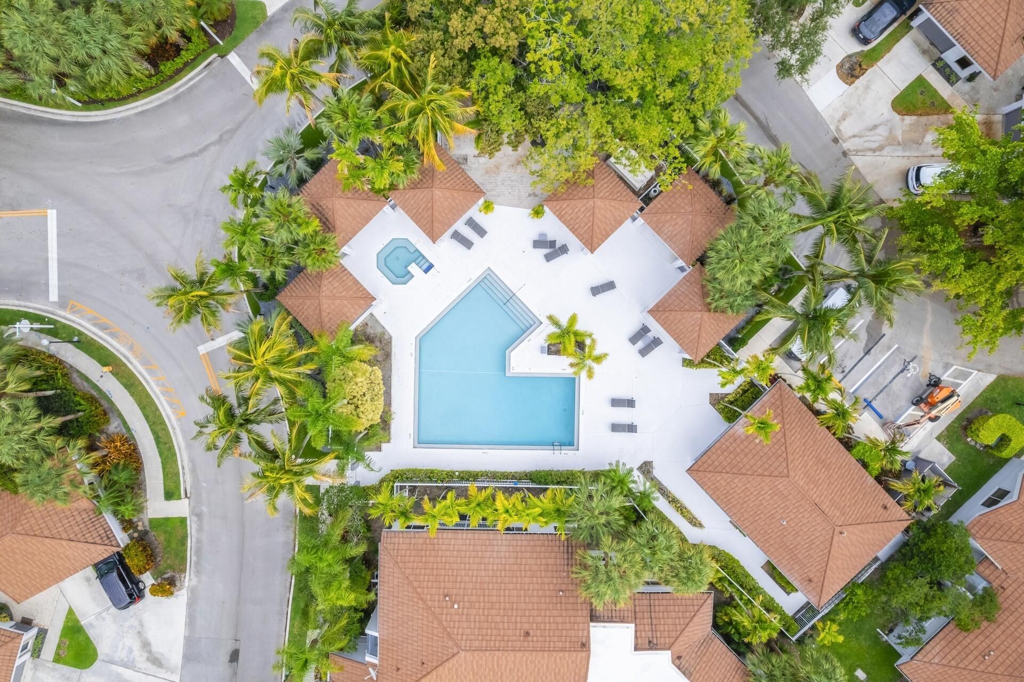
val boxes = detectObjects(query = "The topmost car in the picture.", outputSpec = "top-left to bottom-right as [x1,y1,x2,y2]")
[851,0,916,48]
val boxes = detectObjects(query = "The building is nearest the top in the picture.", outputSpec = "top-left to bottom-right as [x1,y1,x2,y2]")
[909,0,1024,83]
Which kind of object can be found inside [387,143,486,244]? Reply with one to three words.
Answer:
building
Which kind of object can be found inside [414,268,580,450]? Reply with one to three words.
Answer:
swimming pool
